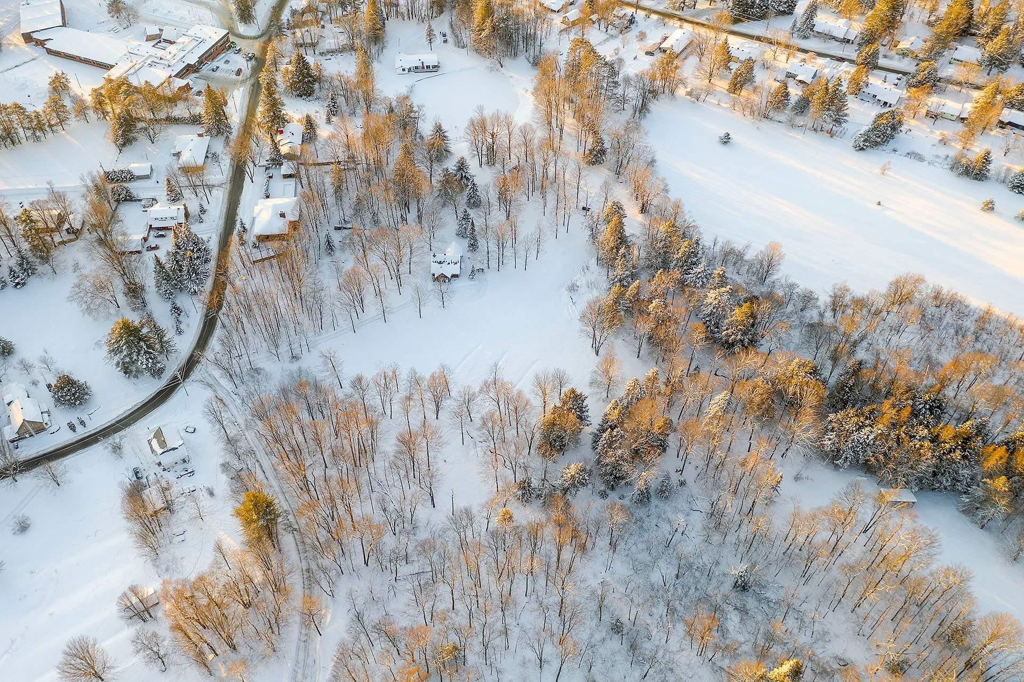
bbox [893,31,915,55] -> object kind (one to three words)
building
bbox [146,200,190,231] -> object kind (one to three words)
house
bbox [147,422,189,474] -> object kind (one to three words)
house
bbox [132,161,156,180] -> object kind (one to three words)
shed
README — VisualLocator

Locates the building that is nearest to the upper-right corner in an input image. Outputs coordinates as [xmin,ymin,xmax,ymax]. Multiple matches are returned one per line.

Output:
[952,47,987,70]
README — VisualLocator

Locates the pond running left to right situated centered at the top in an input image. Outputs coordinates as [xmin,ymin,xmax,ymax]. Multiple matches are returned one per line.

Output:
[404,76,526,121]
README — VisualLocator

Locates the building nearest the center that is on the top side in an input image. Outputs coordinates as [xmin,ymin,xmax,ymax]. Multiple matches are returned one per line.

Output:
[431,240,464,283]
